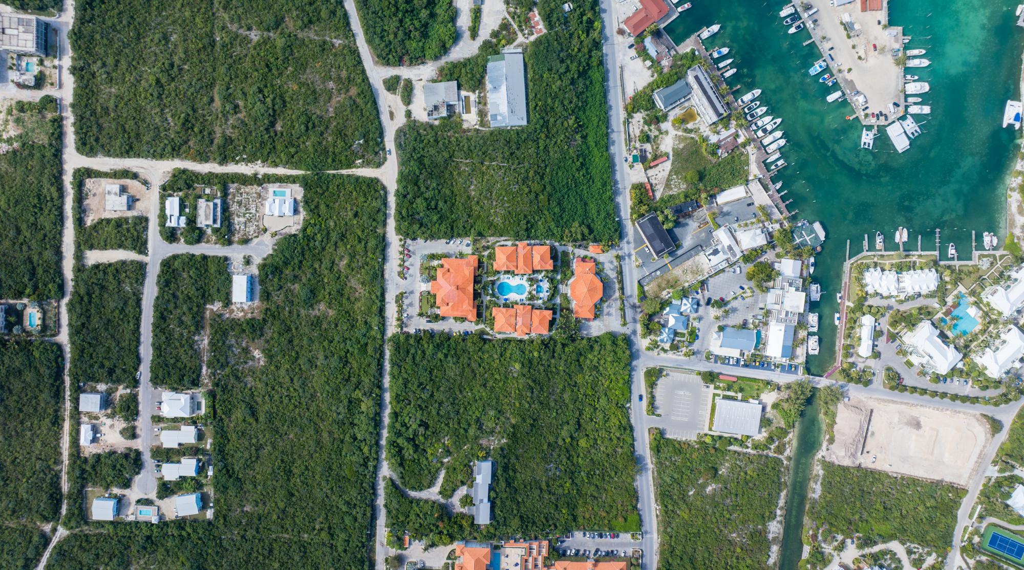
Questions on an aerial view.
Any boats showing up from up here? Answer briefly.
Yes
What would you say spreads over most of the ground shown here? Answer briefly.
trees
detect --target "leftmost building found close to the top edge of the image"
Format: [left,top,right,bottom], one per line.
[0,16,46,56]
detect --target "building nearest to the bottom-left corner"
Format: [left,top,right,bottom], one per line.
[93,496,119,521]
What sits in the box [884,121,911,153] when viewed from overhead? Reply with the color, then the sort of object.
white ship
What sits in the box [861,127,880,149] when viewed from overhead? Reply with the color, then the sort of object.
white boat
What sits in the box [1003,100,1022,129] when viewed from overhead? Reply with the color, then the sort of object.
white boat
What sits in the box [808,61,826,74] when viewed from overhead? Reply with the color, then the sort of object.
blue boat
